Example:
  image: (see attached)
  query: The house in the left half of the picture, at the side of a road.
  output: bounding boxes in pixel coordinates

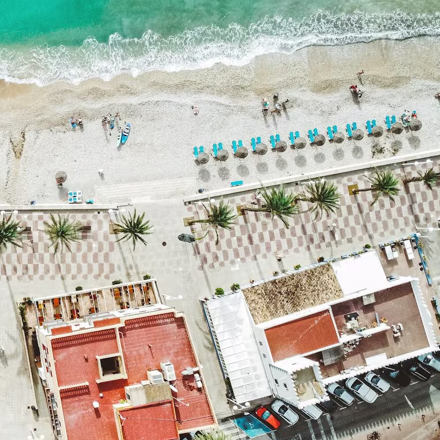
[36,300,216,440]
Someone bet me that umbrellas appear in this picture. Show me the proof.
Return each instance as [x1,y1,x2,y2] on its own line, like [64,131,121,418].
[390,121,403,134]
[350,128,363,141]
[273,140,286,153]
[406,118,420,131]
[235,146,248,158]
[54,170,67,183]
[313,133,325,146]
[216,148,229,161]
[370,125,383,138]
[196,152,209,165]
[255,142,268,155]
[332,131,345,144]
[294,137,306,150]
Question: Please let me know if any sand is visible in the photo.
Yes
